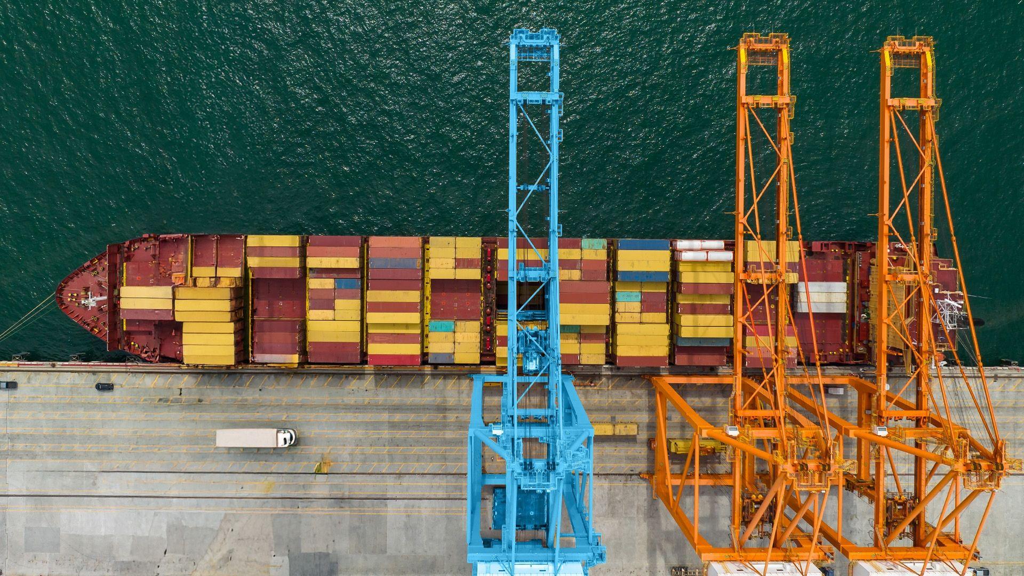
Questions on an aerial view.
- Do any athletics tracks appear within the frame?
No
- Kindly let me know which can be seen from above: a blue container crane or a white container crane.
blue container crane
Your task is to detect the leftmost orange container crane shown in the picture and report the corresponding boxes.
[635,22,863,576]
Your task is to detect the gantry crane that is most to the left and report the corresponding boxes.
[467,20,606,576]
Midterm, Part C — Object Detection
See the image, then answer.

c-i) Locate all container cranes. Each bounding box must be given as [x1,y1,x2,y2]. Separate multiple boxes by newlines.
[467,20,606,576]
[743,23,1024,576]
[635,22,863,576]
